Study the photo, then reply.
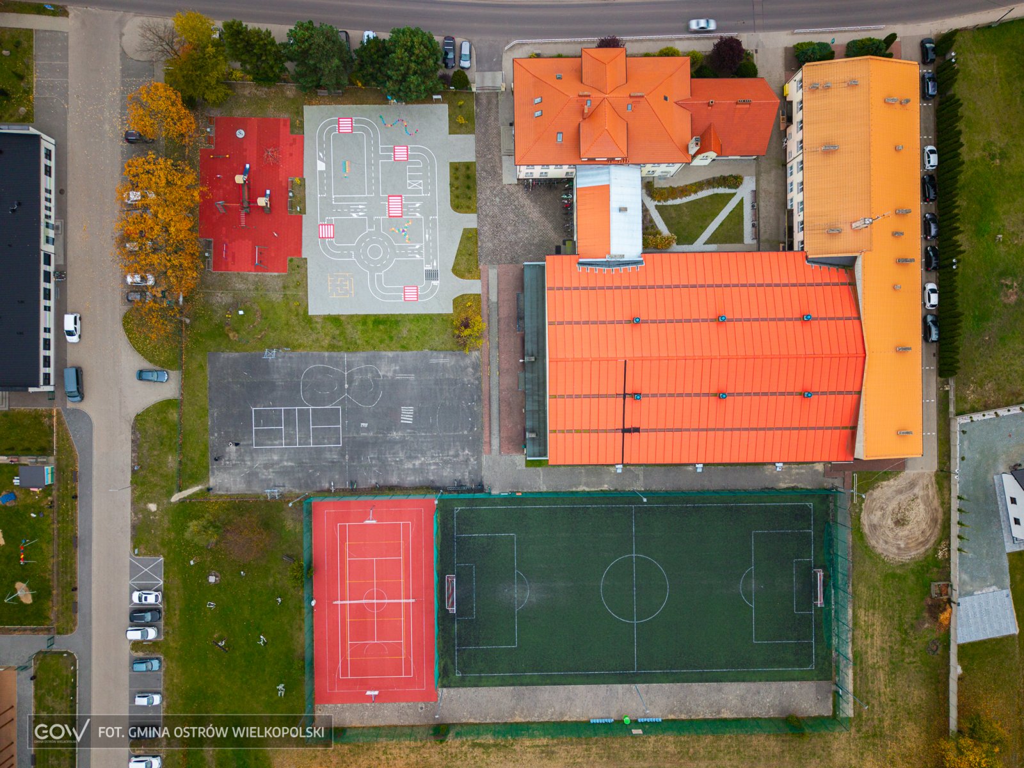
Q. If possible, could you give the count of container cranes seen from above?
none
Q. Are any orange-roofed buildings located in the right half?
Yes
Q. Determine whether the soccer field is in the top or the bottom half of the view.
bottom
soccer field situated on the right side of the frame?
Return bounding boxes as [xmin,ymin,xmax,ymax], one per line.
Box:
[437,494,833,688]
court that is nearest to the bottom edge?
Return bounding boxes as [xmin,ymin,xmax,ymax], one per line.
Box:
[312,500,437,704]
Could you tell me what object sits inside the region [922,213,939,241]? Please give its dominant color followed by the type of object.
black car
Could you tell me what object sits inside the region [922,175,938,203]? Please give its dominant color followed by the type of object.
black car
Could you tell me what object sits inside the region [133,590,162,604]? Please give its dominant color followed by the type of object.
white car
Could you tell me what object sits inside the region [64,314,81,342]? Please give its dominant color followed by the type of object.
white car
